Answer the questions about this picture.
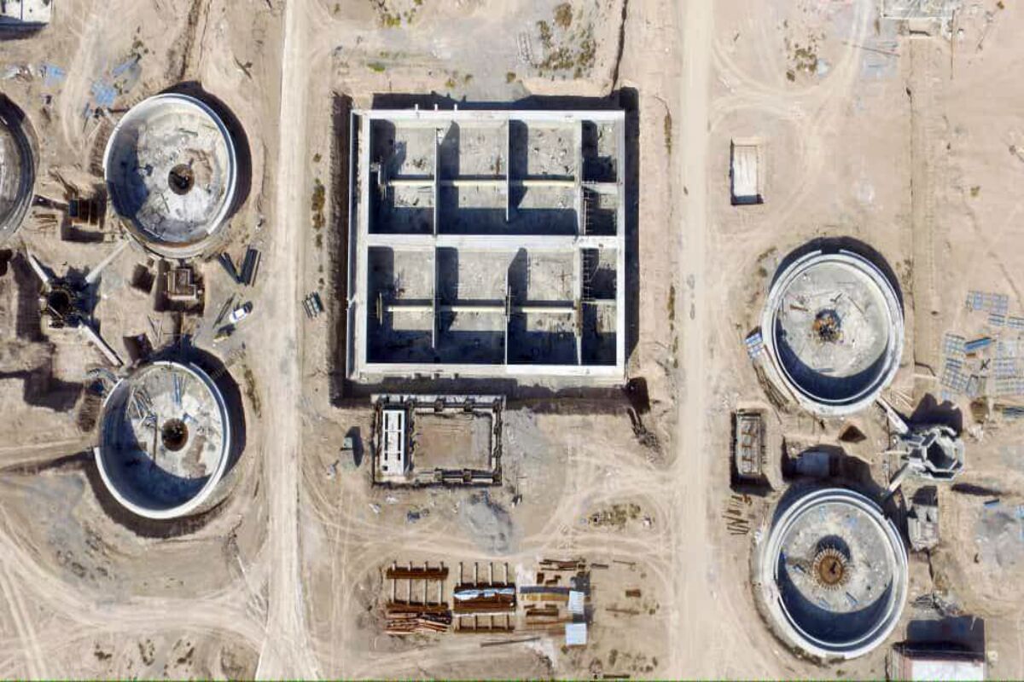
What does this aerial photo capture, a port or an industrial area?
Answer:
industrial area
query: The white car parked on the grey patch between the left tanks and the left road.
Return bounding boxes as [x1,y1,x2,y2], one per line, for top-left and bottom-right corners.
[231,305,251,323]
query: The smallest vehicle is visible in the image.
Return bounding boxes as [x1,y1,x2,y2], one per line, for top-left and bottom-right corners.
[212,330,230,343]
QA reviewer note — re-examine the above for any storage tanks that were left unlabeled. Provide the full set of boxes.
[95,360,241,519]
[758,484,907,654]
[104,92,248,254]
[755,243,904,412]
[0,98,42,252]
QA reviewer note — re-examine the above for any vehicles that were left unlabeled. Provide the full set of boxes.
[231,305,251,323]
[212,330,230,343]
